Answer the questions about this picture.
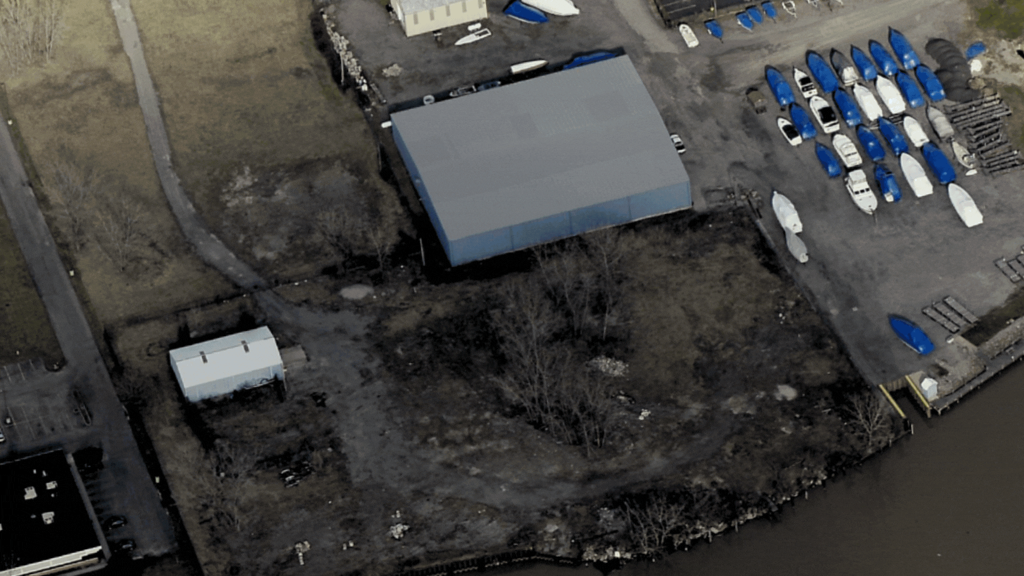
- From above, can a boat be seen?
Yes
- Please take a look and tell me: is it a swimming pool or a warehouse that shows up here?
warehouse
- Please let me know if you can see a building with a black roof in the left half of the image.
Yes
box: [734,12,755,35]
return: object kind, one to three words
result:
boat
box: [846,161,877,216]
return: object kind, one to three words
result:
boat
